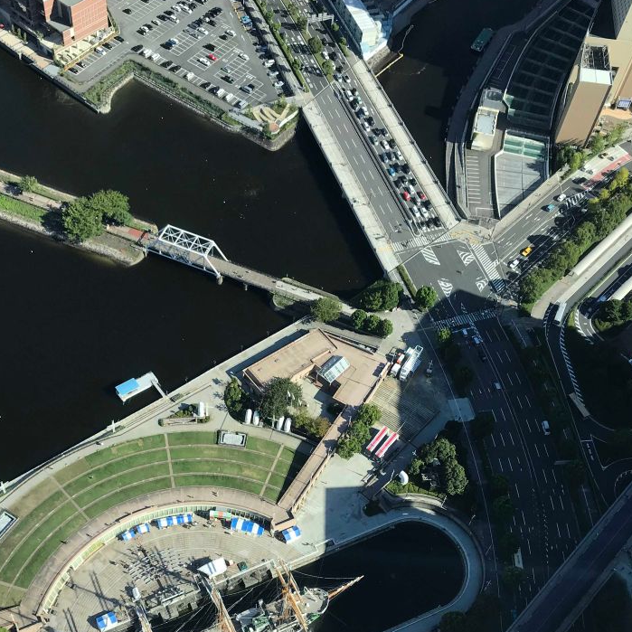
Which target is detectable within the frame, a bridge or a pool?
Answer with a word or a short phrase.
bridge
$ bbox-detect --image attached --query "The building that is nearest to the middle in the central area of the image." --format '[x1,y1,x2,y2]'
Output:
[243,328,390,414]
